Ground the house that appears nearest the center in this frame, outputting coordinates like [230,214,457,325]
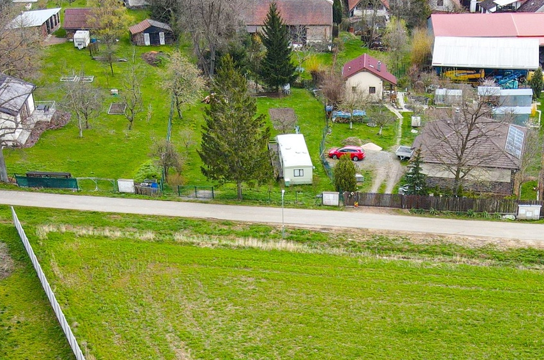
[265,129,313,185]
